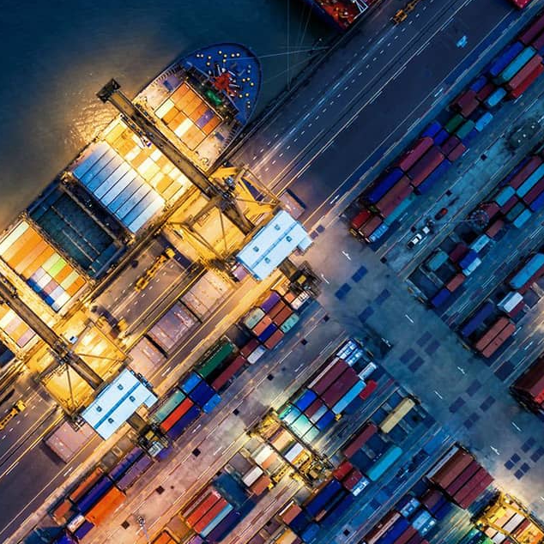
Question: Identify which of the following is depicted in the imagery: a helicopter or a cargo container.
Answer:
cargo container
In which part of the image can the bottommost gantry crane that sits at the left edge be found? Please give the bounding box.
[0,263,157,440]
